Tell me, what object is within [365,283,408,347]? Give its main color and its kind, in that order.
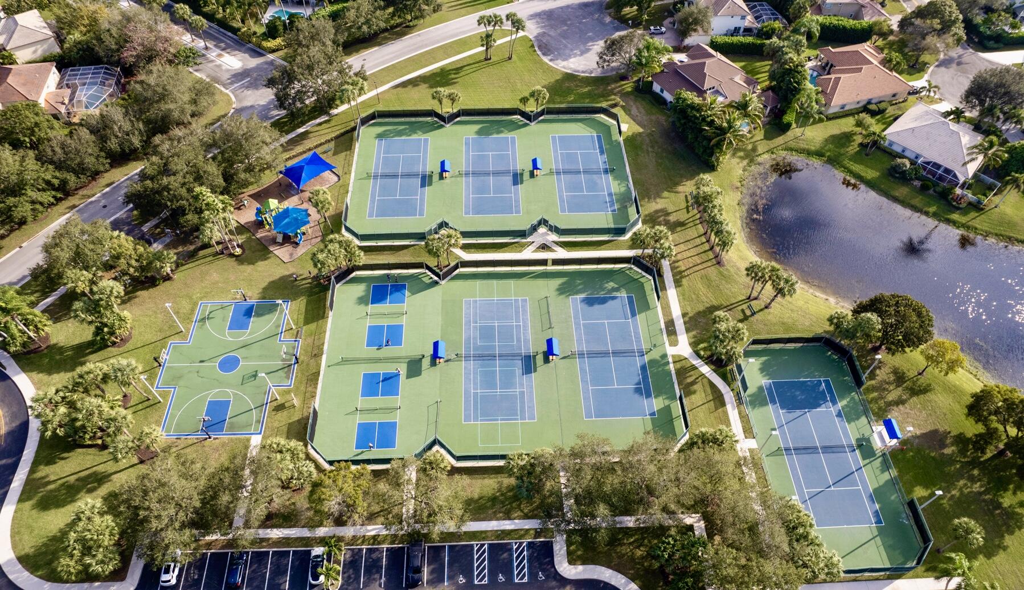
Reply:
blue sports court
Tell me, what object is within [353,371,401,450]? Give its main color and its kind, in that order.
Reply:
blue sports court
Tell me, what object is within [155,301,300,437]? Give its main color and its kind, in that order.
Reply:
green basketball court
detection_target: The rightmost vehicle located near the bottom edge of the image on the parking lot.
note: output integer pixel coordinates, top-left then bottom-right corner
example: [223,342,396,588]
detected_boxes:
[405,539,424,586]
